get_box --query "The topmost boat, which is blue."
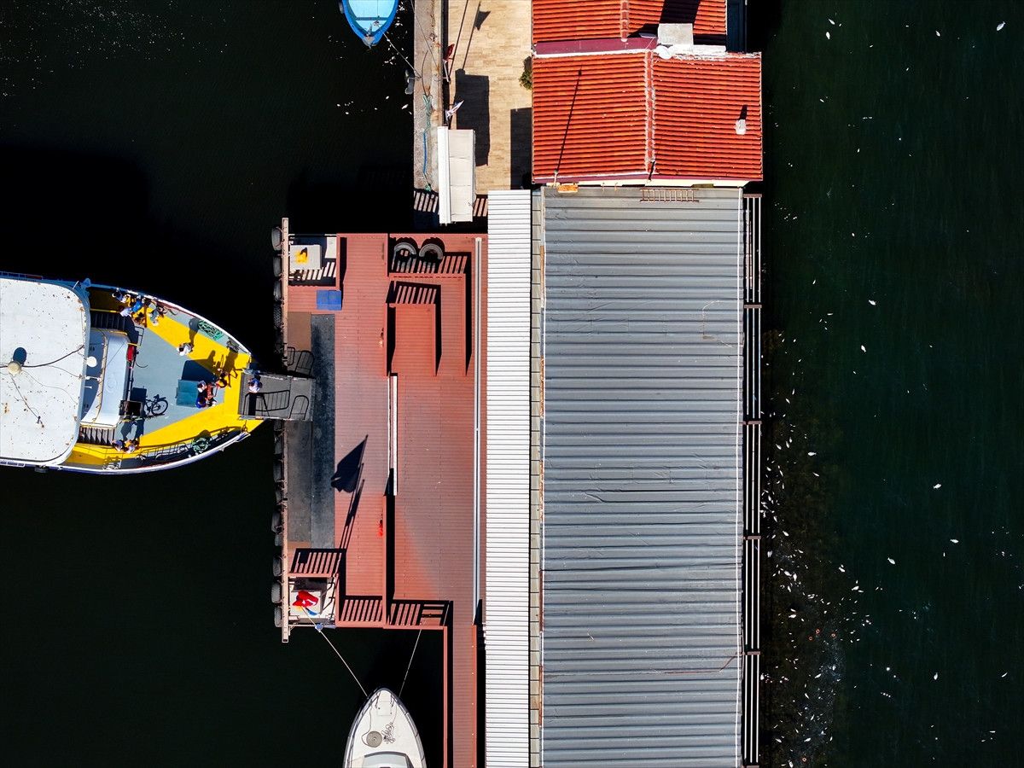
[338,0,398,50]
